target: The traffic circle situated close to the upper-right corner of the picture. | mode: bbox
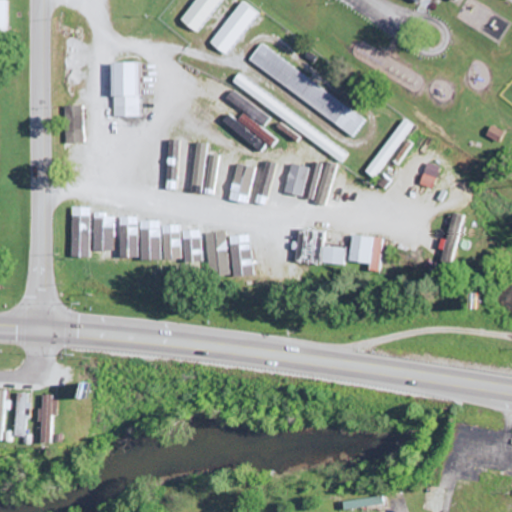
[404,14,451,58]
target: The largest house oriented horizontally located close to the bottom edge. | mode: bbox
[342,493,386,510]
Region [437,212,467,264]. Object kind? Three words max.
house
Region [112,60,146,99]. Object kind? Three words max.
building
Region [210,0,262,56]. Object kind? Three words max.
barn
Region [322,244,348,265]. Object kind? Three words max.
shed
